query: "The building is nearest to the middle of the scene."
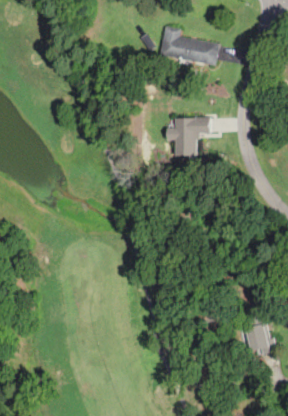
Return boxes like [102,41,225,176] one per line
[166,116,212,155]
